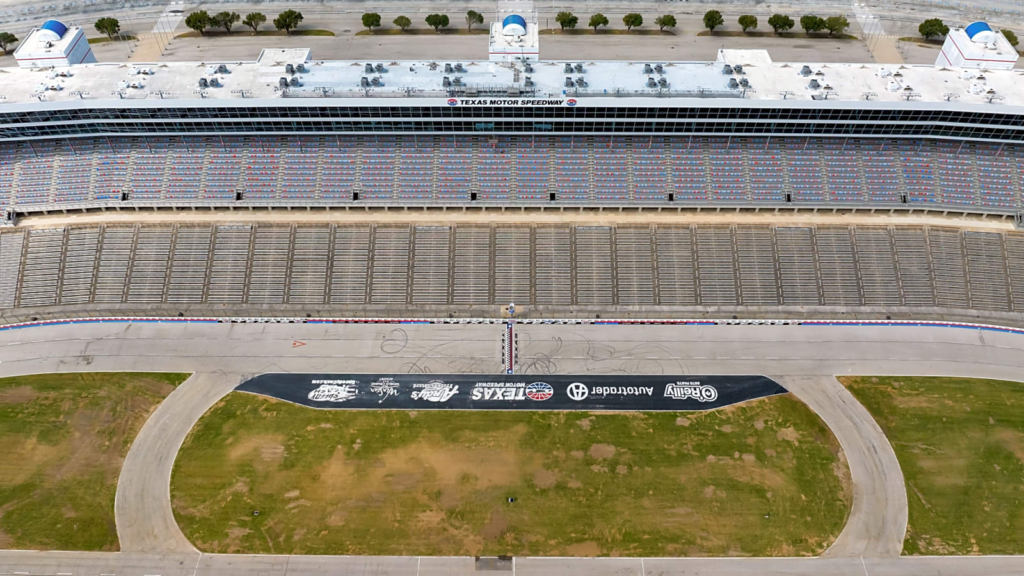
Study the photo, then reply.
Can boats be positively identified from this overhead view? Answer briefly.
No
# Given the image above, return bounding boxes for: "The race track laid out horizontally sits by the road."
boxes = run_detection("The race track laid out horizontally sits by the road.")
[0,322,1024,381]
